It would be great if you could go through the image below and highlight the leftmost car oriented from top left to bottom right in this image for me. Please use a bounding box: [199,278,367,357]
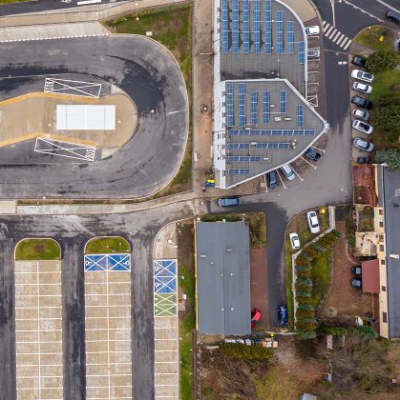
[279,161,298,182]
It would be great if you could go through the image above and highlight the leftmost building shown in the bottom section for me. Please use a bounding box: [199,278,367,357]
[190,222,251,336]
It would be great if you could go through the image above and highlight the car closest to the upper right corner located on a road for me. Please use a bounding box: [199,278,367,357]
[383,9,400,25]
